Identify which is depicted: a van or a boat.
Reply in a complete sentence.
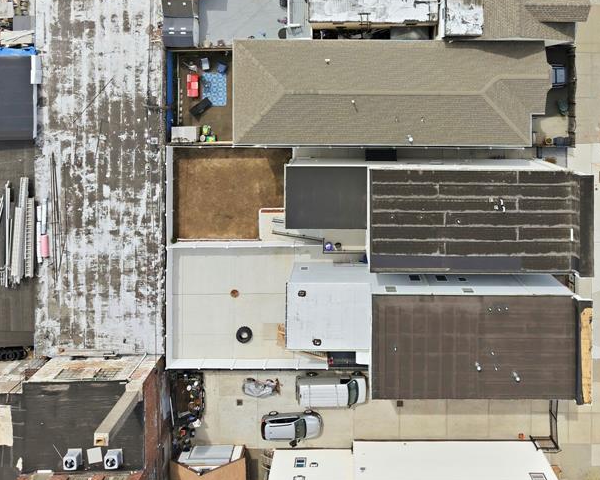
There is a van in the scene.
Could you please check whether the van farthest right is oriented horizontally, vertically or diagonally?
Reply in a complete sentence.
In this picture, the van farthest right is oriented horizontally.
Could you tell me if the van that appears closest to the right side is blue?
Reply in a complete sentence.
No, the color of the van that appears closest to the right side is white.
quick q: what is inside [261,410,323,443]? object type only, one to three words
car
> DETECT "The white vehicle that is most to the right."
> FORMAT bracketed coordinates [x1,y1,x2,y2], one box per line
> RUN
[295,373,366,409]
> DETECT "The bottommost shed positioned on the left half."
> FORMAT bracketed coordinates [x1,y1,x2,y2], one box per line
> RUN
[170,431,249,480]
